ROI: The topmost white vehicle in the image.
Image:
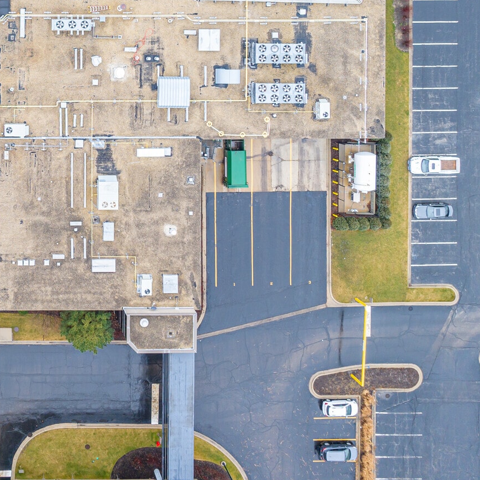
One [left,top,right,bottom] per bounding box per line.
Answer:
[408,156,461,175]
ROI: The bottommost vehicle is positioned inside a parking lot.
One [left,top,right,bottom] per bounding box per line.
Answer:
[318,439,355,460]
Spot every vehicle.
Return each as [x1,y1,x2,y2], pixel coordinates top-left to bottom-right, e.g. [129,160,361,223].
[408,156,461,175]
[410,202,452,221]
[321,397,356,418]
[318,439,355,460]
